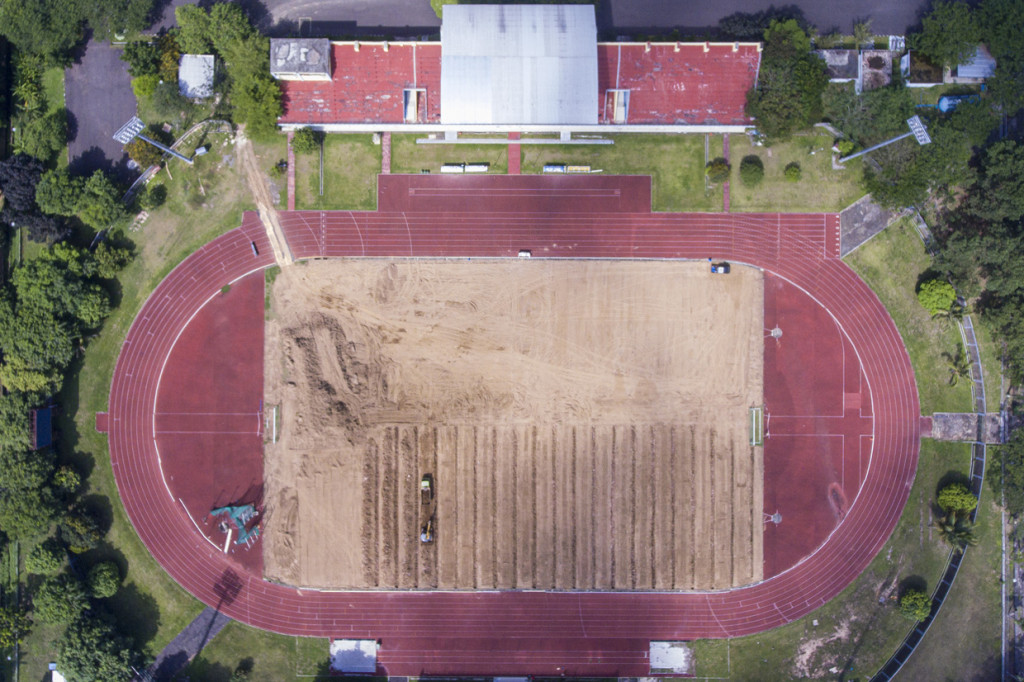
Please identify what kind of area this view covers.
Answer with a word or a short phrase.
sports ground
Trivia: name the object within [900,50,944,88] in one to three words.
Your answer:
house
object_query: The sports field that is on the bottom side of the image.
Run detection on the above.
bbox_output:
[264,260,765,590]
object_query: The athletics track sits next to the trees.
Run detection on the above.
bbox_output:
[96,174,932,639]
